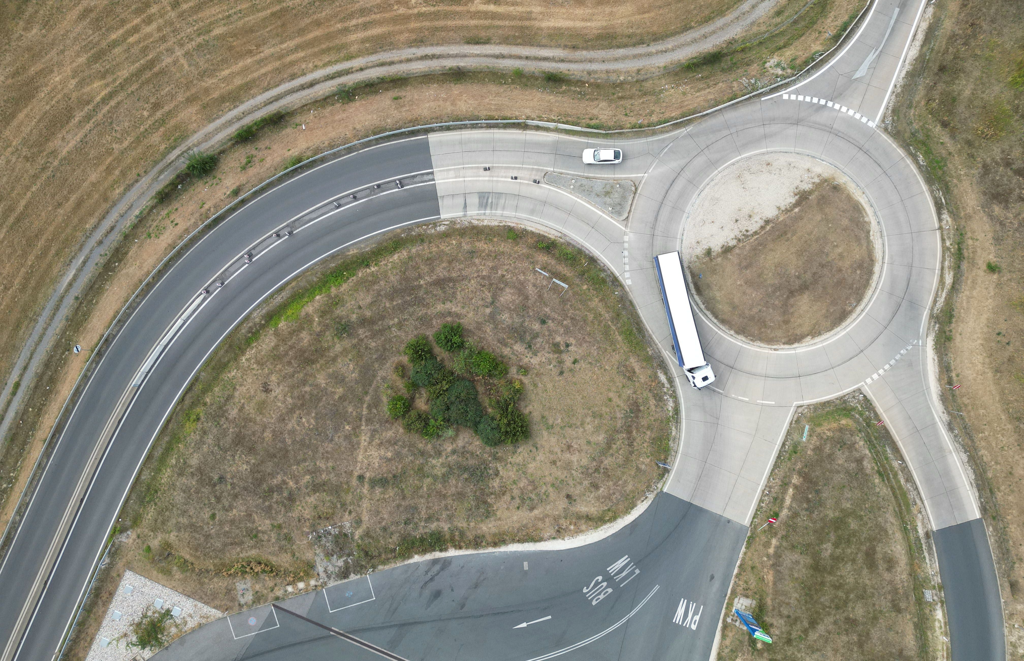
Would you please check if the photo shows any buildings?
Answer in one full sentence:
No, the picture doesn't show any building.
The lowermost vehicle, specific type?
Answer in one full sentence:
The lowermost vehicle appears to be a truck.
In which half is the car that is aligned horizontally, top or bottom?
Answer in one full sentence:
The car that is aligned horizontally is in the top half of the image.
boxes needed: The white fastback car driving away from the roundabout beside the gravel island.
[582,145,622,165]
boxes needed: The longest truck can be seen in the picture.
[652,251,715,390]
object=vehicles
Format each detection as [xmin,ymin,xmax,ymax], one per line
[652,251,715,390]
[582,145,622,165]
